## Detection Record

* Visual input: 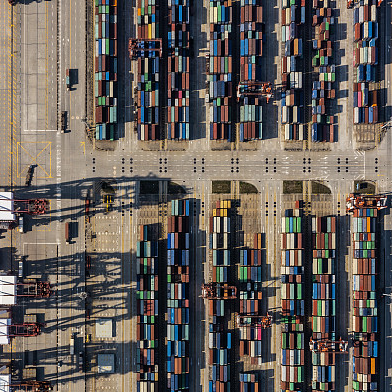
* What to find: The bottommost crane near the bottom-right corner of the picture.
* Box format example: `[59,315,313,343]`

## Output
[307,330,347,351]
